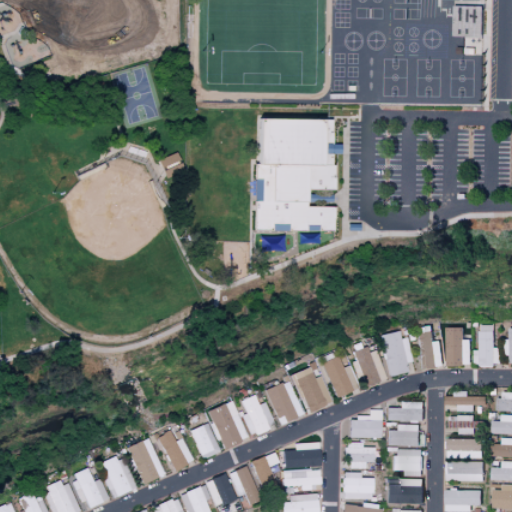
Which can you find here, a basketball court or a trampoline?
basketball court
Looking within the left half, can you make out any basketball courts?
Yes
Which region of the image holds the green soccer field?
top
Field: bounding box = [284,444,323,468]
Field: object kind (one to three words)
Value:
house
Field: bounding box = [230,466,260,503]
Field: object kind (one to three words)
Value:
house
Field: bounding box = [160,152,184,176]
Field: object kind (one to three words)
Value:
building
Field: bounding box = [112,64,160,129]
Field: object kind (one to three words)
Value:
basketball court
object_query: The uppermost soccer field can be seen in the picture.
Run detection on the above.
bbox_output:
[200,0,326,92]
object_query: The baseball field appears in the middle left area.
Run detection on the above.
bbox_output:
[0,158,198,342]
